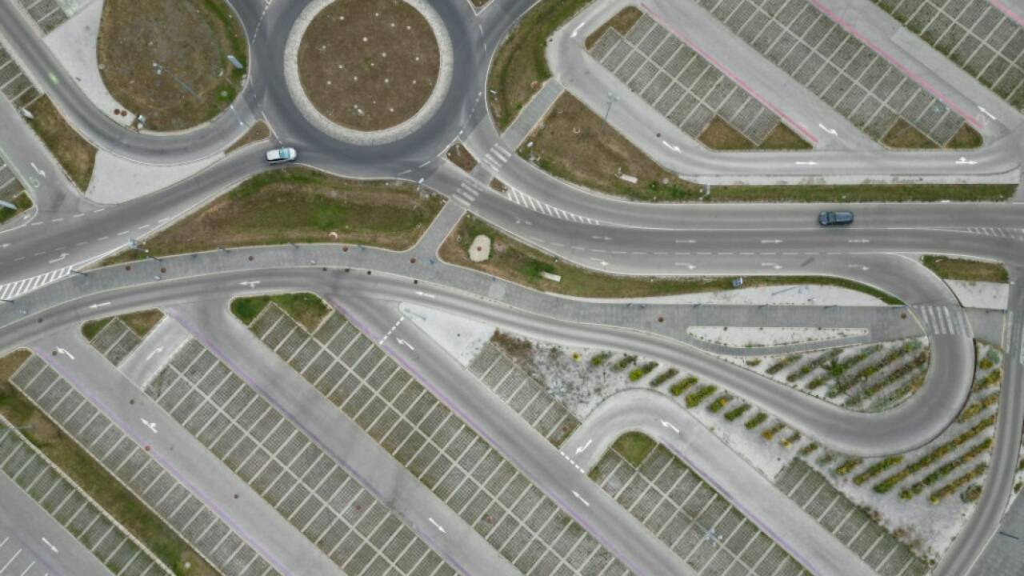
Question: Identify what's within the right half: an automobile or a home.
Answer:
automobile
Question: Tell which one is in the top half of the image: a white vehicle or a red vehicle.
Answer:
white vehicle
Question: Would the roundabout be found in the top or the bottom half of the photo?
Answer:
top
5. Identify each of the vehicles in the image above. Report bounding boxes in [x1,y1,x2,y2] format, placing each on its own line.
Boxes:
[264,147,295,164]
[818,210,855,226]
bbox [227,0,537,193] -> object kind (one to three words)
roundabout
